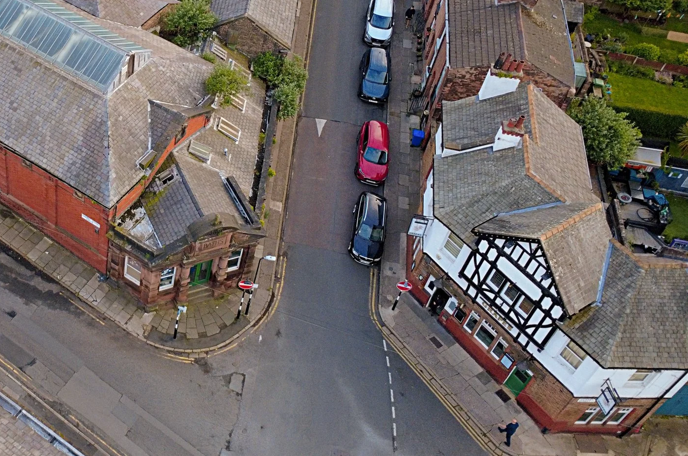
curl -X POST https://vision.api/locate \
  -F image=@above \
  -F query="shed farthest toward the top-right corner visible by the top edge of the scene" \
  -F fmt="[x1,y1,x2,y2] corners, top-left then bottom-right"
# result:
[563,2,583,44]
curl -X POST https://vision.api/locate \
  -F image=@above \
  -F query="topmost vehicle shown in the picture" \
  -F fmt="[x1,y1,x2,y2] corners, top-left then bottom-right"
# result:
[363,0,397,45]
